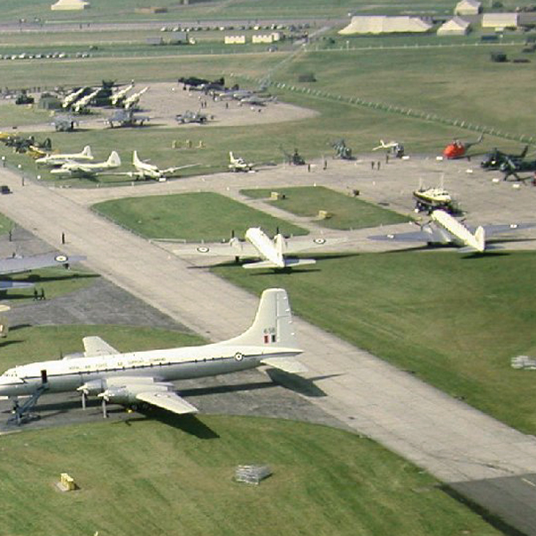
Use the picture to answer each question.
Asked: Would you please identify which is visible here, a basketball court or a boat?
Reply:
boat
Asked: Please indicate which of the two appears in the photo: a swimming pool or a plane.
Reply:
plane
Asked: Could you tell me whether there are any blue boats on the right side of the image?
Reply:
No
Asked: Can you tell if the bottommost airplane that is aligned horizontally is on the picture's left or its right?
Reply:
left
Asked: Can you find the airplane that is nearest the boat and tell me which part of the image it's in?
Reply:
right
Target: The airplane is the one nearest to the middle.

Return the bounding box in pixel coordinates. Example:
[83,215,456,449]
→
[174,227,350,277]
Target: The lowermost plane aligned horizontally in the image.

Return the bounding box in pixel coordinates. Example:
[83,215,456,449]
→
[0,291,307,419]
